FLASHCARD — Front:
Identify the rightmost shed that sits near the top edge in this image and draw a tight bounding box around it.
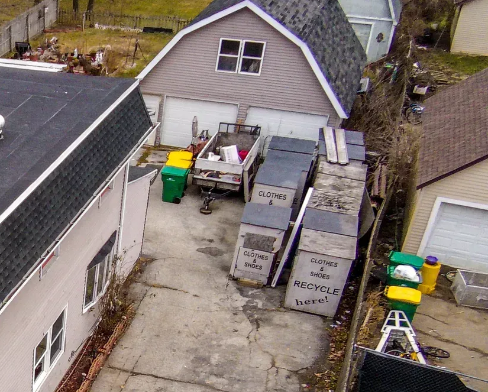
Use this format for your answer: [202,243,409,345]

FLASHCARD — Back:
[447,0,488,55]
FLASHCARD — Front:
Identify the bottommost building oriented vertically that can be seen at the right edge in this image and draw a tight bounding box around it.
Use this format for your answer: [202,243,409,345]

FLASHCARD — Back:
[408,80,488,265]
